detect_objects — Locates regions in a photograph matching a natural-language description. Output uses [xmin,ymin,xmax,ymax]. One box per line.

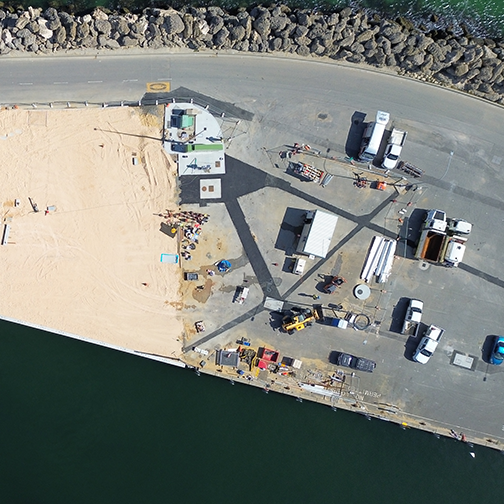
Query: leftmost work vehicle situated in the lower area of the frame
[281,302,325,333]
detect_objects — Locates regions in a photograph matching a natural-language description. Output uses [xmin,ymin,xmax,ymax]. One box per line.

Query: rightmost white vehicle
[442,218,471,266]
